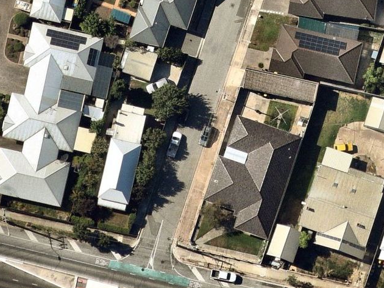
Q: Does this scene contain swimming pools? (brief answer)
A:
No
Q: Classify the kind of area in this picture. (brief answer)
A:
residential area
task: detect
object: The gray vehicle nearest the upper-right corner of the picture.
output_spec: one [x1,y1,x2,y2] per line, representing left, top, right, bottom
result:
[198,121,214,147]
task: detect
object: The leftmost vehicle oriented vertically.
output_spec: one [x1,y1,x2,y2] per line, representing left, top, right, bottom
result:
[168,130,183,158]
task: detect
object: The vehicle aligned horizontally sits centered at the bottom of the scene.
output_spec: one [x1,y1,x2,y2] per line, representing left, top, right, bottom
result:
[209,269,238,283]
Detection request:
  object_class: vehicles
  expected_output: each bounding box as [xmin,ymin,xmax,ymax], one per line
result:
[198,121,214,147]
[168,130,183,158]
[334,141,353,151]
[209,269,238,283]
[147,75,173,90]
